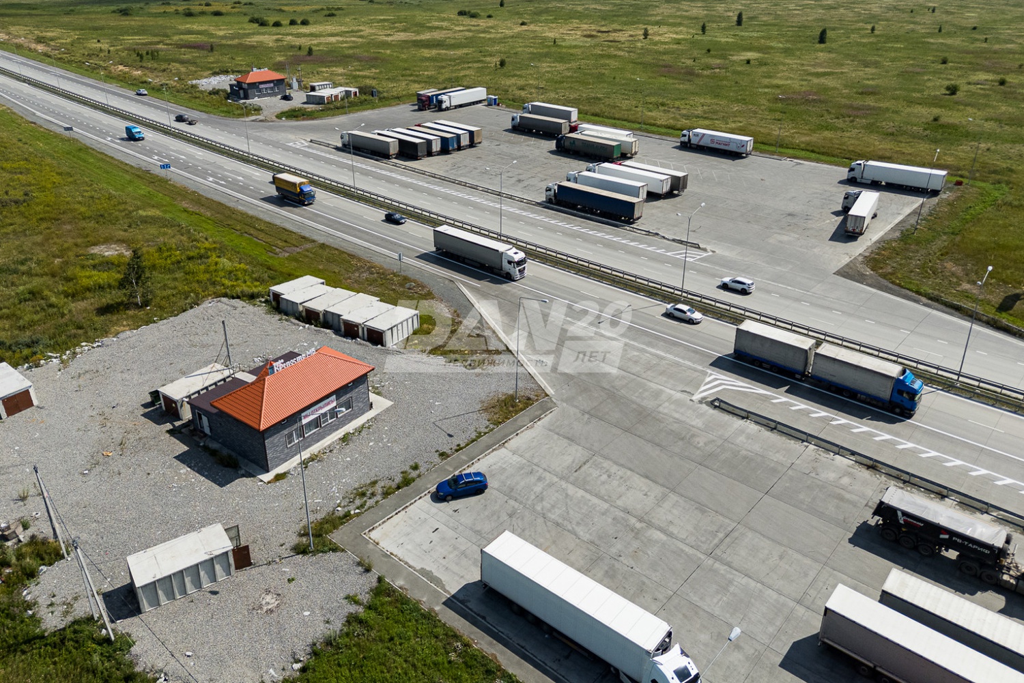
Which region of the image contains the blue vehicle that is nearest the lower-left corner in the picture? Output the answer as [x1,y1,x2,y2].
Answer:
[440,469,498,501]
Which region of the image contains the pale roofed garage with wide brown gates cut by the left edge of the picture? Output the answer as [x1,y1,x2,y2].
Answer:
[0,367,41,422]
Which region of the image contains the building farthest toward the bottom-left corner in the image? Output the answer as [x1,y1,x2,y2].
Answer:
[128,526,253,613]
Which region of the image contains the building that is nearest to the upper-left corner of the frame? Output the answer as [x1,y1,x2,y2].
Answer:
[223,64,297,101]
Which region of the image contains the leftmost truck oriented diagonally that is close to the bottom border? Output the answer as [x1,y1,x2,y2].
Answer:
[482,531,711,683]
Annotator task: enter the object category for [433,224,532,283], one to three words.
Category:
truck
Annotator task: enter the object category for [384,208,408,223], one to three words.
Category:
car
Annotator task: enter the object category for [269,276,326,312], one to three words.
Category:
building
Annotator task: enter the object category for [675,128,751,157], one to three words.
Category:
truck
